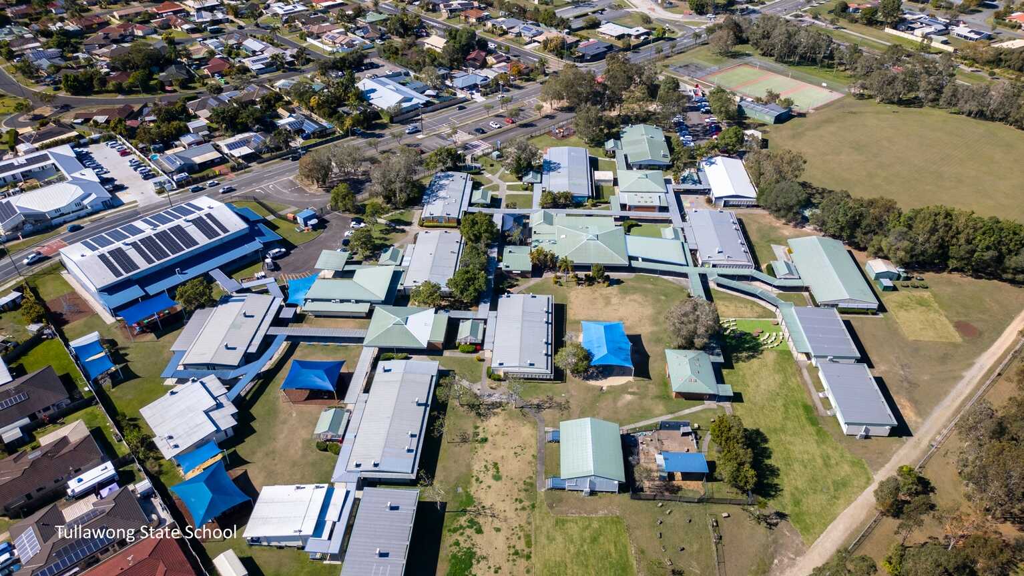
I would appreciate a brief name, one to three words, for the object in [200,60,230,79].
house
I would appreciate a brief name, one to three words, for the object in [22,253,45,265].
vehicle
